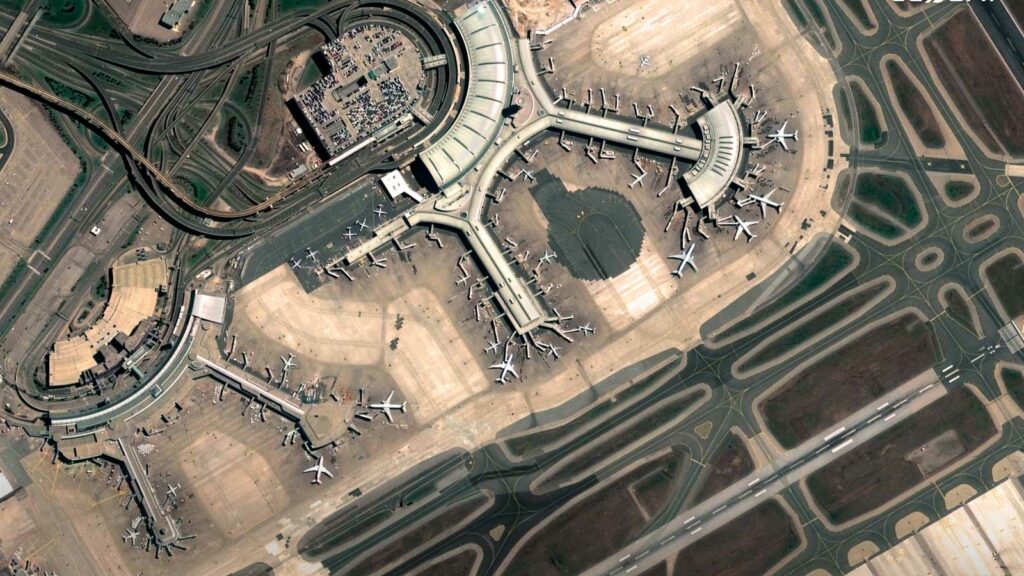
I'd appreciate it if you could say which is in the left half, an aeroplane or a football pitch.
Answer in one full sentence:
The one visible in the left half is an aeroplane.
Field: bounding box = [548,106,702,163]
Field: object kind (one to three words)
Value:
building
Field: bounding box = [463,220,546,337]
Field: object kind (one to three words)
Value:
building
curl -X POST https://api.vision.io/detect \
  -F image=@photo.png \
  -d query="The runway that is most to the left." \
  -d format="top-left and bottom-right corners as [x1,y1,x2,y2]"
[574,367,948,576]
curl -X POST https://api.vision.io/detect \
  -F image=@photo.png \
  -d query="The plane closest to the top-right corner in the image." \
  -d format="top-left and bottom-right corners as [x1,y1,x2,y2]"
[766,122,798,150]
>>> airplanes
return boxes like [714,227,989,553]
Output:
[304,456,332,485]
[356,217,369,231]
[541,250,557,262]
[304,246,320,261]
[282,353,297,370]
[668,243,702,279]
[626,173,646,189]
[341,227,358,241]
[123,531,139,541]
[550,344,560,357]
[456,276,468,286]
[491,354,520,384]
[484,342,500,352]
[369,389,406,422]
[167,483,180,495]
[733,215,759,243]
[579,324,595,334]
[750,188,783,216]
[372,204,389,218]
[766,122,798,150]
[290,257,301,268]
[527,172,537,180]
